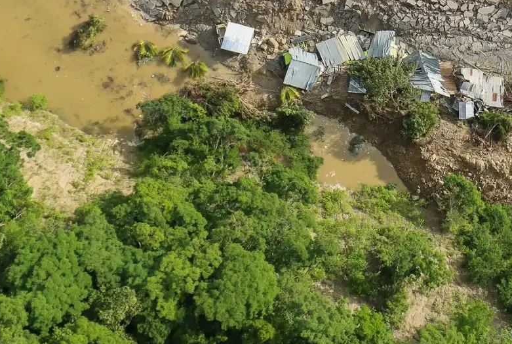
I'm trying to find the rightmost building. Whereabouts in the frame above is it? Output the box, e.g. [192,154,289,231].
[458,68,504,110]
